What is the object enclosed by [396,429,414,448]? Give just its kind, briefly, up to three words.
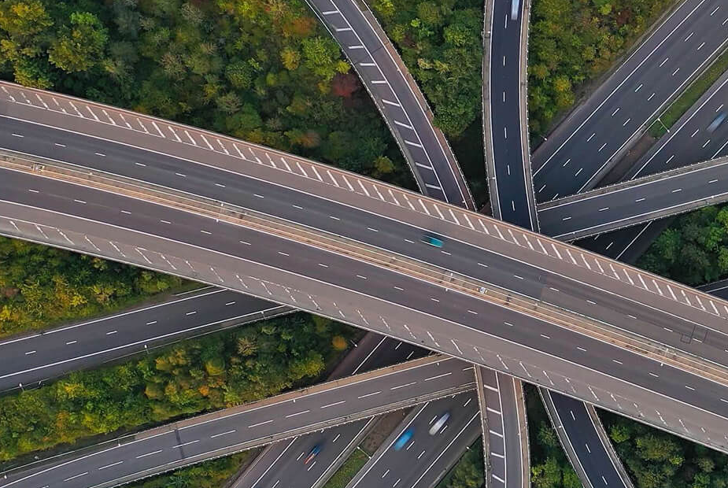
car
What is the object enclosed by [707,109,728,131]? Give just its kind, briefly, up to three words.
car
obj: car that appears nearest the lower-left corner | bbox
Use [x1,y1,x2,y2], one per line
[305,444,322,464]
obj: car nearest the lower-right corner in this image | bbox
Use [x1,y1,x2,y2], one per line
[430,413,450,434]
